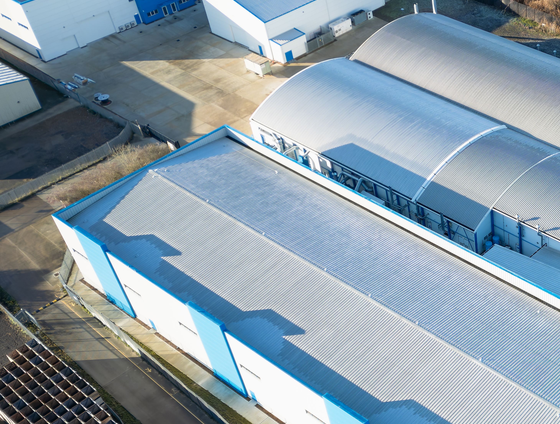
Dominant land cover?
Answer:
buildings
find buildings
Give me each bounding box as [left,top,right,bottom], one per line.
[202,0,385,63]
[55,128,560,424]
[0,0,199,61]
[0,61,41,126]
[350,0,560,147]
[244,53,271,77]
